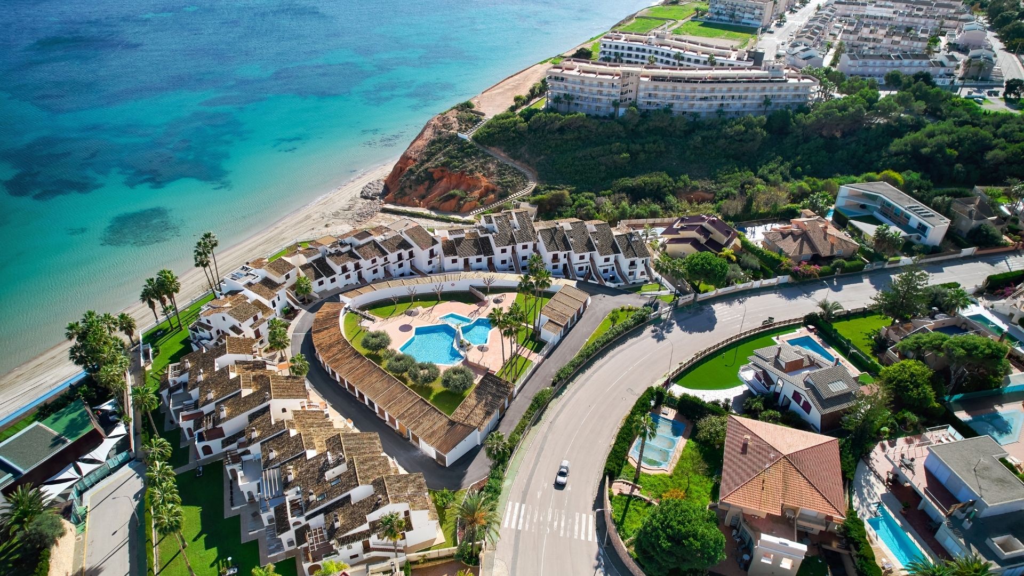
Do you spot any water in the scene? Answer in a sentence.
Yes, water can be seen from above here.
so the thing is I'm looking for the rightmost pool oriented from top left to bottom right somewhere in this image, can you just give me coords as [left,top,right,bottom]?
[967,313,1024,353]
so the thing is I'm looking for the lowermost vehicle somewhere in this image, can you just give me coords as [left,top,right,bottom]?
[554,455,571,486]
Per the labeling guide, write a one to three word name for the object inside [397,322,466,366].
swimming pool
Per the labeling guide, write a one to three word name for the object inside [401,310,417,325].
umbrella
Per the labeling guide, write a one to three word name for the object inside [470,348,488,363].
umbrella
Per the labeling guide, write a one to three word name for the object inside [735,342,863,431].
house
